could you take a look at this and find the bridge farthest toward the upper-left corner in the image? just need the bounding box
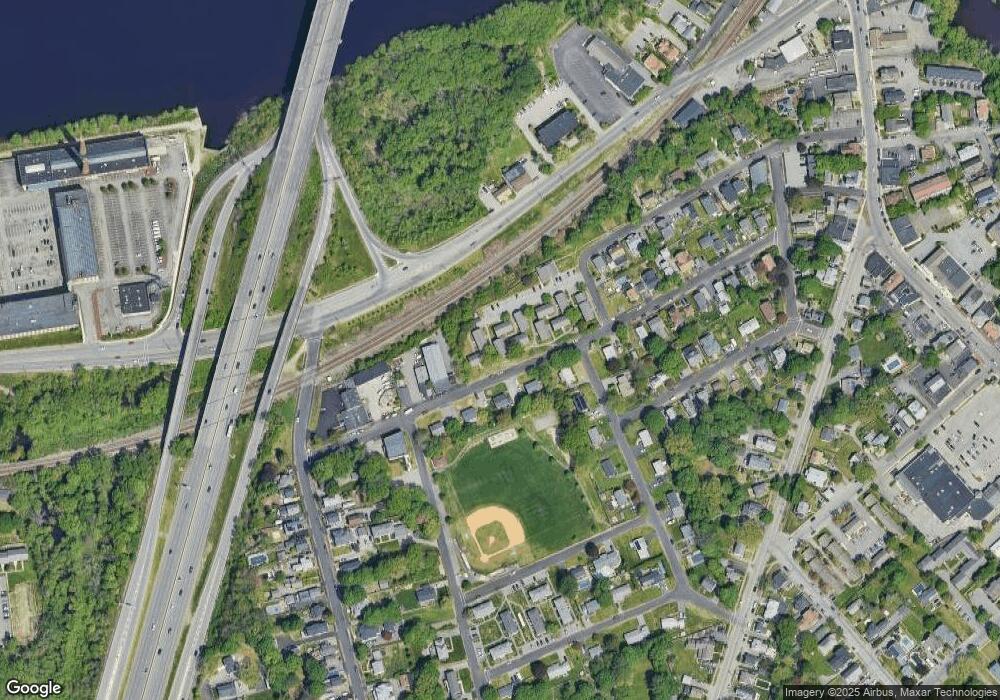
[284,0,353,118]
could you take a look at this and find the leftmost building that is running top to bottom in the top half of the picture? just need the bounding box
[54,189,99,283]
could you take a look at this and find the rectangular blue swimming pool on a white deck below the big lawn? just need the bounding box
[882,353,903,372]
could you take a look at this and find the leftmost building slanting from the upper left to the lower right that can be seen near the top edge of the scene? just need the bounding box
[581,33,643,101]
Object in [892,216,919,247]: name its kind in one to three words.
building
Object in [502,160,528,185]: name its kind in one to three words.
house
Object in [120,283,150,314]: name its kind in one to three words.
building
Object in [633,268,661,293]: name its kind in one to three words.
house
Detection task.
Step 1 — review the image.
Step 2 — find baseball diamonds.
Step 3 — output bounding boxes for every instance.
[442,428,601,574]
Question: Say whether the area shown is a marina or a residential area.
residential area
